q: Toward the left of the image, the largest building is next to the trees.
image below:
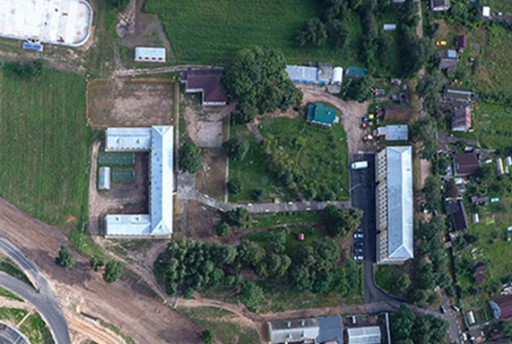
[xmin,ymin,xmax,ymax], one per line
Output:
[106,126,179,241]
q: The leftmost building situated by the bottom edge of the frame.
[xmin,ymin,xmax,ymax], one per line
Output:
[265,318,320,343]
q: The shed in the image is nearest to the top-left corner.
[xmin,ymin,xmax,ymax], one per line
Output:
[135,46,165,62]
